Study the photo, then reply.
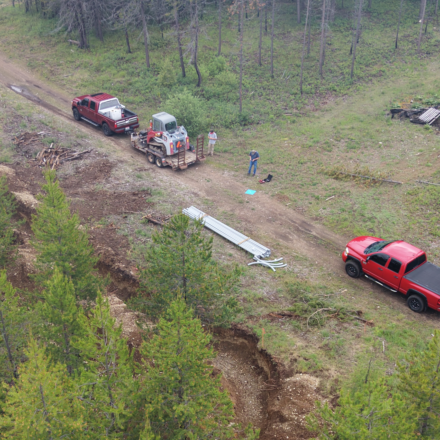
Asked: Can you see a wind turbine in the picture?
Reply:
No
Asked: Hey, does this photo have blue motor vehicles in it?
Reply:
No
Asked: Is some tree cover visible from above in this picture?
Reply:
Yes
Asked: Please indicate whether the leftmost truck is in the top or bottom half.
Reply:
top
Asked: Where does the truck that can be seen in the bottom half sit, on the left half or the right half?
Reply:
right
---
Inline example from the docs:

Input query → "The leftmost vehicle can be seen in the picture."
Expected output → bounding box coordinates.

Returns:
[67,91,143,138]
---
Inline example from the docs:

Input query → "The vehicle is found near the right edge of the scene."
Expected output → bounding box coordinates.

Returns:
[340,235,440,315]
